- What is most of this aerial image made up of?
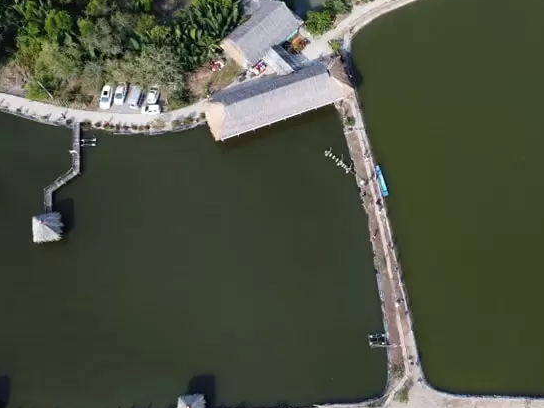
water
